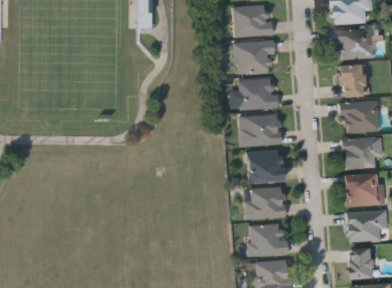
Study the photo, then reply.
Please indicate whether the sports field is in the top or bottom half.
top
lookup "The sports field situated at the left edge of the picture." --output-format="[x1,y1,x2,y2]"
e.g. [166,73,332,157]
[8,0,136,121]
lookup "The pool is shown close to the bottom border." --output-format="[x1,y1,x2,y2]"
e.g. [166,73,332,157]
[376,258,392,278]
